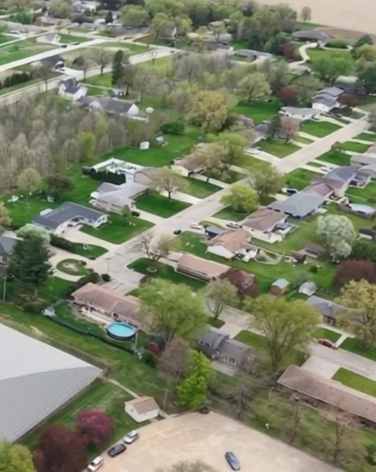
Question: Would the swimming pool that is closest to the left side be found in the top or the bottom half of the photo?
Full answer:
Seen from above, the swimming pool that is closest to the left side lies in the bottom half of the view.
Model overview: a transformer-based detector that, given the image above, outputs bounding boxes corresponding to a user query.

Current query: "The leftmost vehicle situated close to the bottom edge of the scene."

[86,453,104,469]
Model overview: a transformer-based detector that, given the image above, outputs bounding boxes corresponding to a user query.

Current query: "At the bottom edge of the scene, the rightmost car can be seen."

[224,452,239,470]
